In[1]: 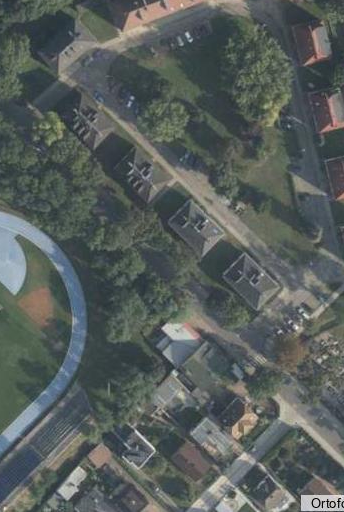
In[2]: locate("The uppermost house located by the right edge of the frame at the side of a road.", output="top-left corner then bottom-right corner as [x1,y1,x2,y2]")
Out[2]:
[291,20,331,67]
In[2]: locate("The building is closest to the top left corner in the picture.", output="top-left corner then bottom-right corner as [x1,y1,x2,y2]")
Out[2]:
[41,17,97,72]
